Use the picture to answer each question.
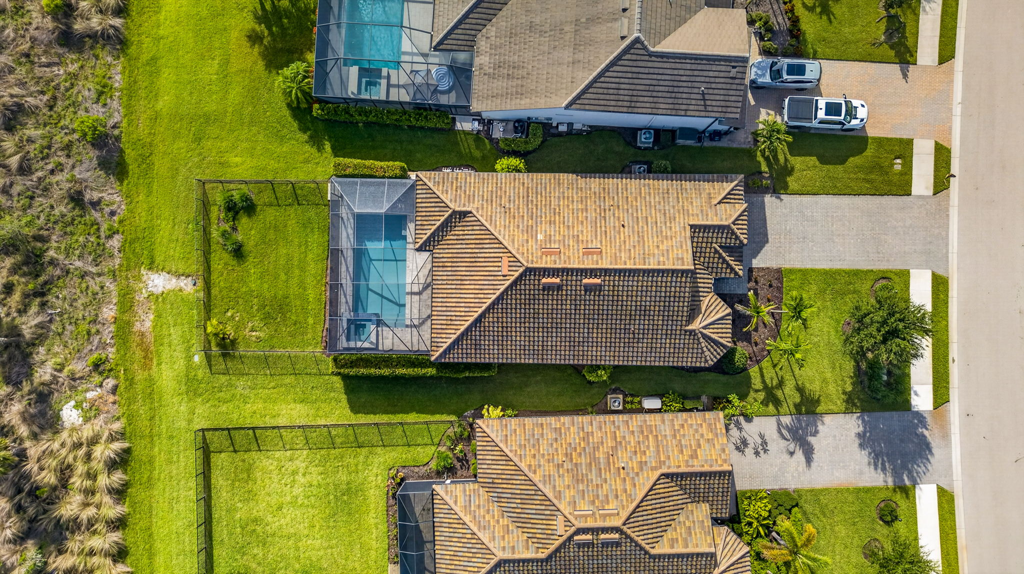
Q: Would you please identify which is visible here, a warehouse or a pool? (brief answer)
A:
pool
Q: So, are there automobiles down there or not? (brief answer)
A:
Yes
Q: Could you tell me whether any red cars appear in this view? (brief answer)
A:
No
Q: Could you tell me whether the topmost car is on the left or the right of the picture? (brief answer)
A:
right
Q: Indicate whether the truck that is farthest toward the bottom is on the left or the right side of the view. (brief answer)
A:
right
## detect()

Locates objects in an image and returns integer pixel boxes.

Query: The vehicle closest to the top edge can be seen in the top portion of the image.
[749,55,821,92]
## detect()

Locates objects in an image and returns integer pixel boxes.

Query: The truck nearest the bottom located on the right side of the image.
[778,93,869,132]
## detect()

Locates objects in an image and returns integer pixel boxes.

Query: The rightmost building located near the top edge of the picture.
[430,0,753,133]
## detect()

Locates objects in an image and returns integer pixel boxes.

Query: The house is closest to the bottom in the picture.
[431,411,753,574]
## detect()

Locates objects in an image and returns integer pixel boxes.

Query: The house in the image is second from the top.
[414,171,750,368]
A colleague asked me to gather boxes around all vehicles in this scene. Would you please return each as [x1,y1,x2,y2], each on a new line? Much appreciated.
[749,55,821,92]
[778,93,869,132]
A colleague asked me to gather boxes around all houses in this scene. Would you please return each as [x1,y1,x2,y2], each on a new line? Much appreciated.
[414,171,750,368]
[431,411,753,574]
[430,0,753,133]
